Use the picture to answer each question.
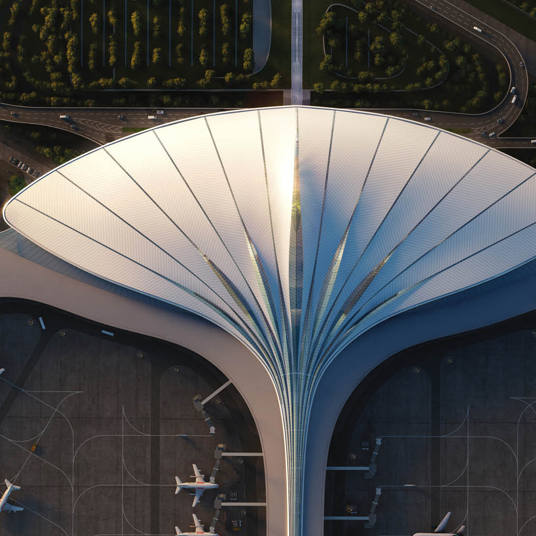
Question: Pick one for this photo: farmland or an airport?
airport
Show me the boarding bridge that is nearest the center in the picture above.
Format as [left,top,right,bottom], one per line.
[192,381,230,434]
